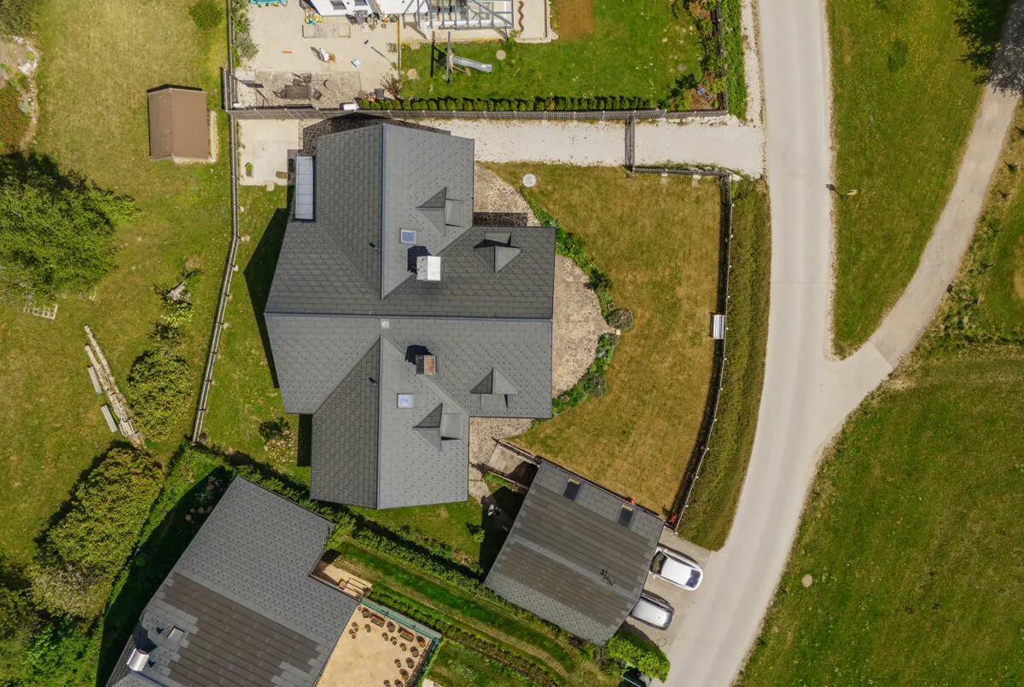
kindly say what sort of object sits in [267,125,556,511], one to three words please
house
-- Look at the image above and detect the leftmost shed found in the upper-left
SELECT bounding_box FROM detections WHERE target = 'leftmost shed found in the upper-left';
[146,87,221,169]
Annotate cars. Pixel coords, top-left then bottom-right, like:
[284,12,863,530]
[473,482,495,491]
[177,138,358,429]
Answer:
[645,543,705,593]
[624,587,674,629]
